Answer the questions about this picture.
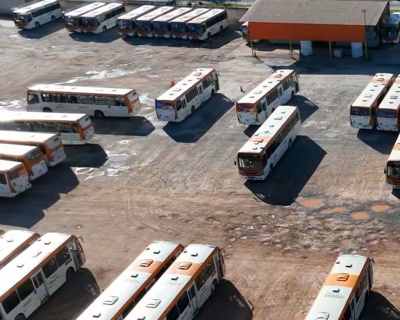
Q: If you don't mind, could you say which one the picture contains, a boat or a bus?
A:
bus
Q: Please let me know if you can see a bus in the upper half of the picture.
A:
Yes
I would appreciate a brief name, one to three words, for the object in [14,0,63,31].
bus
